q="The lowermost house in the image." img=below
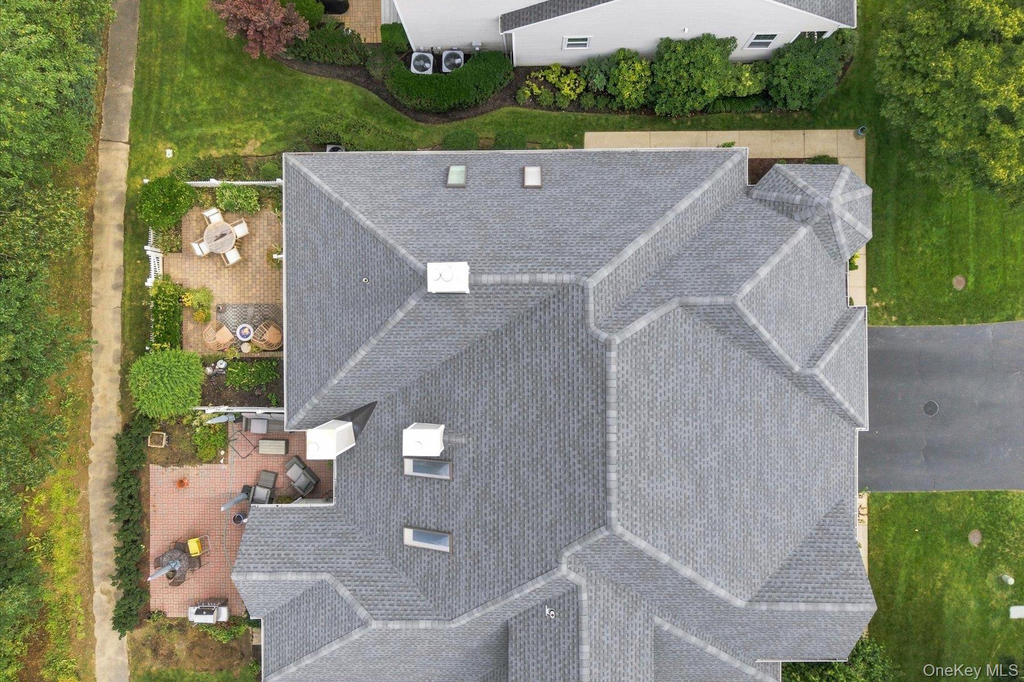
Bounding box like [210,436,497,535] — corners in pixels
[231,145,879,682]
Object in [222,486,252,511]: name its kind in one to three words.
umbrella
